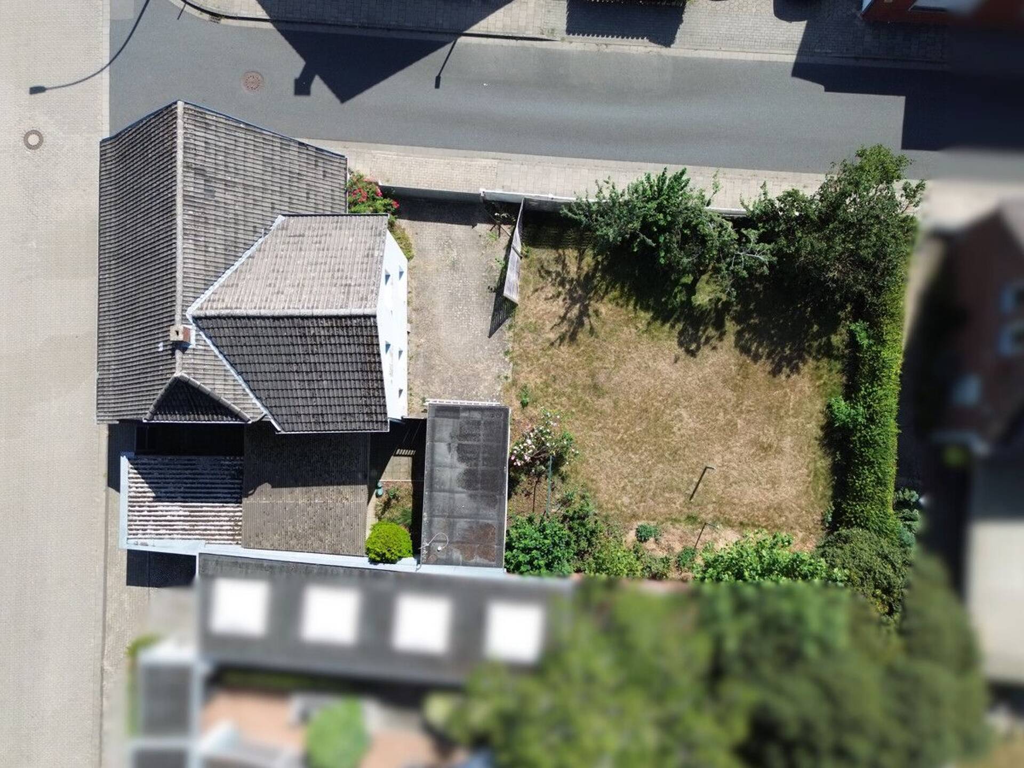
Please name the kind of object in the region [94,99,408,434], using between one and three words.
house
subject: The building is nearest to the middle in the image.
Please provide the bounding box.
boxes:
[421,396,510,568]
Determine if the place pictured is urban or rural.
urban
